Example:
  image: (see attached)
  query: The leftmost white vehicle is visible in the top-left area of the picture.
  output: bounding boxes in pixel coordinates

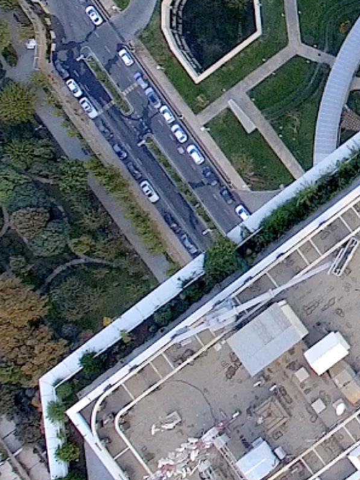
[64,78,82,98]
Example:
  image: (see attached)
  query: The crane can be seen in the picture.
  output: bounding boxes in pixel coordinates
[199,235,360,331]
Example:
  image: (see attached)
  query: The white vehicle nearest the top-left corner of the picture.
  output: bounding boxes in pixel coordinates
[85,4,104,26]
